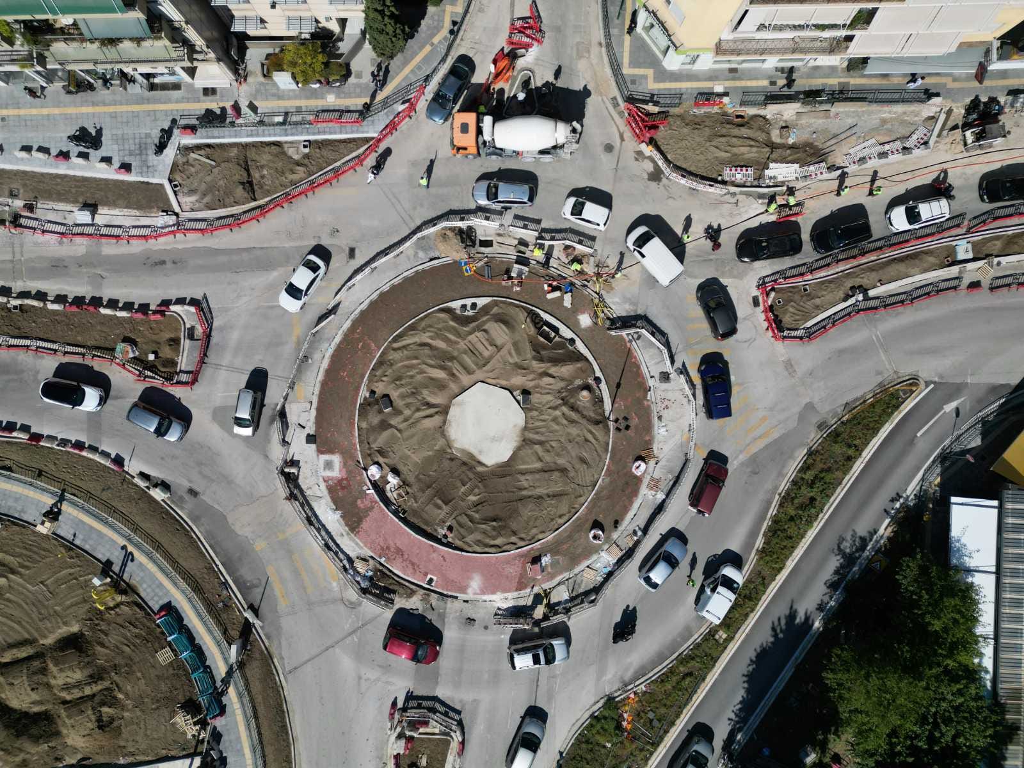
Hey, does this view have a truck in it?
Yes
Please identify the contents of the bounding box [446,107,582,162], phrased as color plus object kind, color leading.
white truck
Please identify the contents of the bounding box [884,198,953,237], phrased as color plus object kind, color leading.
white car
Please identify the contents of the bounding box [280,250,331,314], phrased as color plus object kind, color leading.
white car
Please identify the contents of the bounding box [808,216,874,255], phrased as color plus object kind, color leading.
black car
